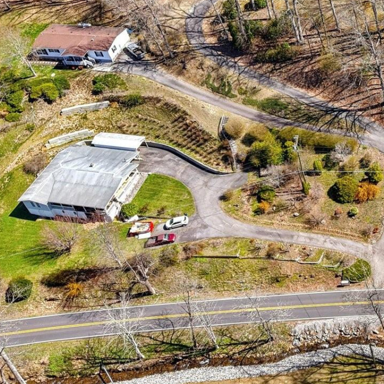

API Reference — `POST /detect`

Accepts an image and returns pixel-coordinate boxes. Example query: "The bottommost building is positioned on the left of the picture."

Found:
[17,147,150,232]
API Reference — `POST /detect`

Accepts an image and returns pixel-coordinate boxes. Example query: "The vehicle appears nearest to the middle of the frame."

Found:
[164,214,188,229]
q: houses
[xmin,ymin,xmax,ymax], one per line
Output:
[17,147,150,232]
[30,26,134,65]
